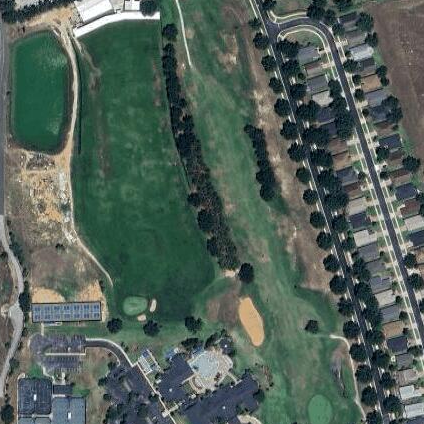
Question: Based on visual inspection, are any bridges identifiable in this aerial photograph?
No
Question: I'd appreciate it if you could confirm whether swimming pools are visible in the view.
Yes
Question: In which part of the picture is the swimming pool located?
bottom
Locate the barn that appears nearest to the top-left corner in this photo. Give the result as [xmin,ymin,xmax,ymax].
[75,0,112,21]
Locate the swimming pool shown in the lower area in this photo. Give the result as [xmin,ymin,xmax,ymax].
[189,345,233,393]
